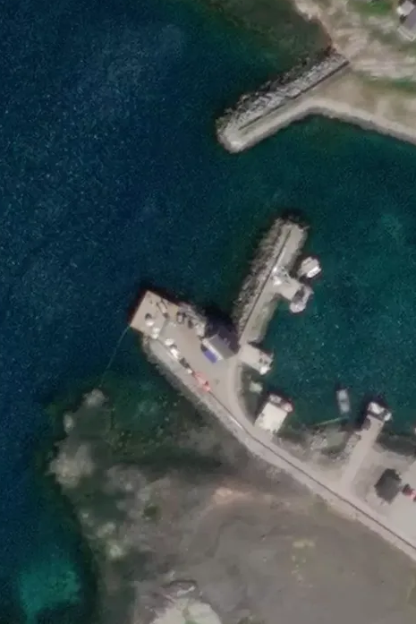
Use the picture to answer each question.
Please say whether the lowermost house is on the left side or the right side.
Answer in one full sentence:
It is on the right.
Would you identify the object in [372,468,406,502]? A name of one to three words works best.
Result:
house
